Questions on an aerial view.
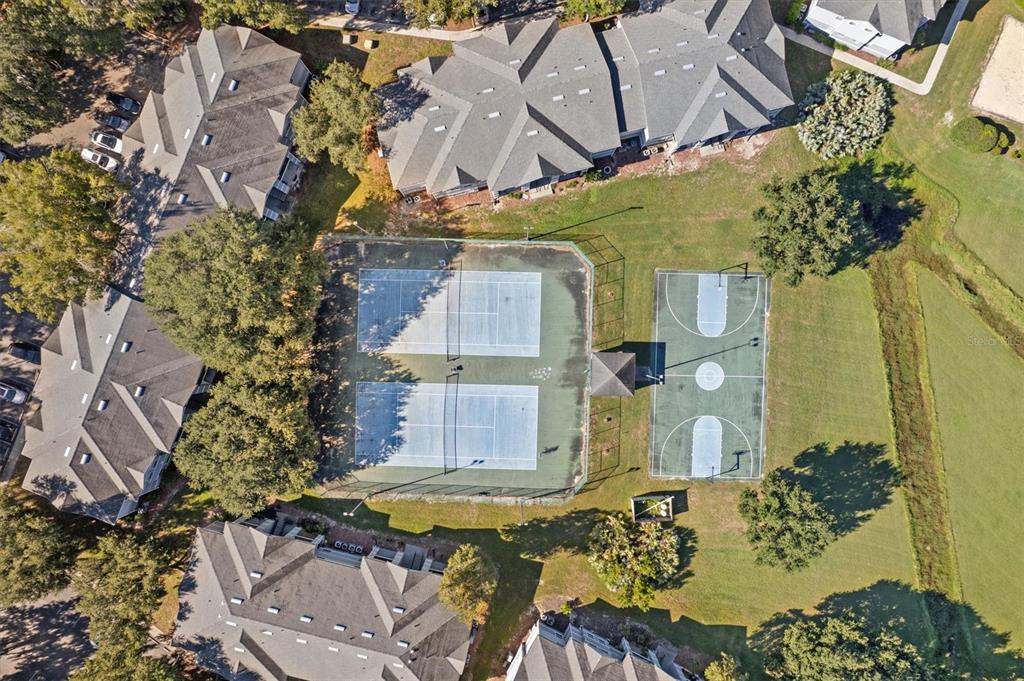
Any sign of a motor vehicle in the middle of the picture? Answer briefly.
No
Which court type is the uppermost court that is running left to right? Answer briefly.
tennis court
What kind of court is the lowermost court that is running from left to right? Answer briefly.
tennis court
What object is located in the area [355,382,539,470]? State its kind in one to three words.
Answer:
tennis court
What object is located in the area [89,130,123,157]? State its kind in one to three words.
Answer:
car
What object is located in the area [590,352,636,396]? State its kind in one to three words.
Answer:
building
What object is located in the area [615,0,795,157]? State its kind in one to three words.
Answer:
building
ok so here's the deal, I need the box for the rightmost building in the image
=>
[801,0,942,59]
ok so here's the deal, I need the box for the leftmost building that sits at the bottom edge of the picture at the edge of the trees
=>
[167,509,475,681]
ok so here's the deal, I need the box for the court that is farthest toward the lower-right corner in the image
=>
[650,270,771,481]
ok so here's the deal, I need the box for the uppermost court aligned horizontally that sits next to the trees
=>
[357,268,542,357]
